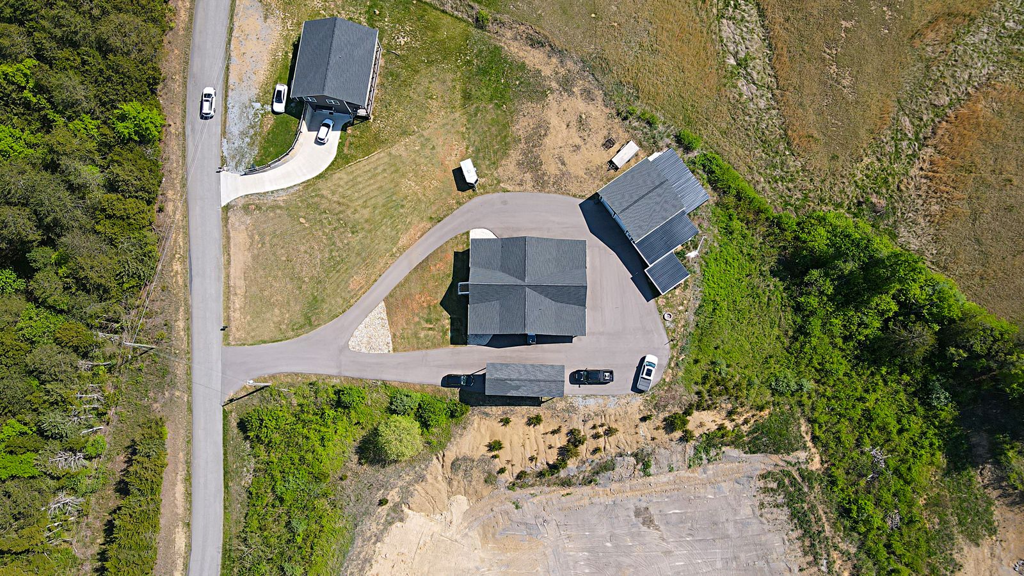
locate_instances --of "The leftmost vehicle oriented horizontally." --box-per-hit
[443,374,473,388]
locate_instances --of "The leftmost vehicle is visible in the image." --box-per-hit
[200,90,216,117]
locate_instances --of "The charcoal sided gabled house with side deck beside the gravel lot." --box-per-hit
[291,17,386,134]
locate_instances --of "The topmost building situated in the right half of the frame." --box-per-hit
[597,148,709,266]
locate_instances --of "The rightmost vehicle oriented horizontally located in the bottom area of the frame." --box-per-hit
[573,369,613,384]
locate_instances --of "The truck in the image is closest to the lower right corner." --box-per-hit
[636,354,657,394]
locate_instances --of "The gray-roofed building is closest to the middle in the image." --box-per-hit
[457,236,588,348]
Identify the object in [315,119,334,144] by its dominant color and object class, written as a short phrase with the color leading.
white car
